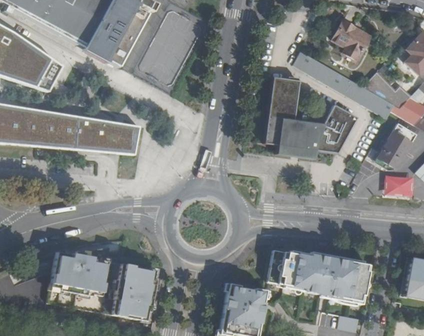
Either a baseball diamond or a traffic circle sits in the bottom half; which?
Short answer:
traffic circle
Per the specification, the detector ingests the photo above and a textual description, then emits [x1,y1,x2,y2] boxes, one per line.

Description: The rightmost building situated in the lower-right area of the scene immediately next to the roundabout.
[266,248,368,309]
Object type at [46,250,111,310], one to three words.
building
